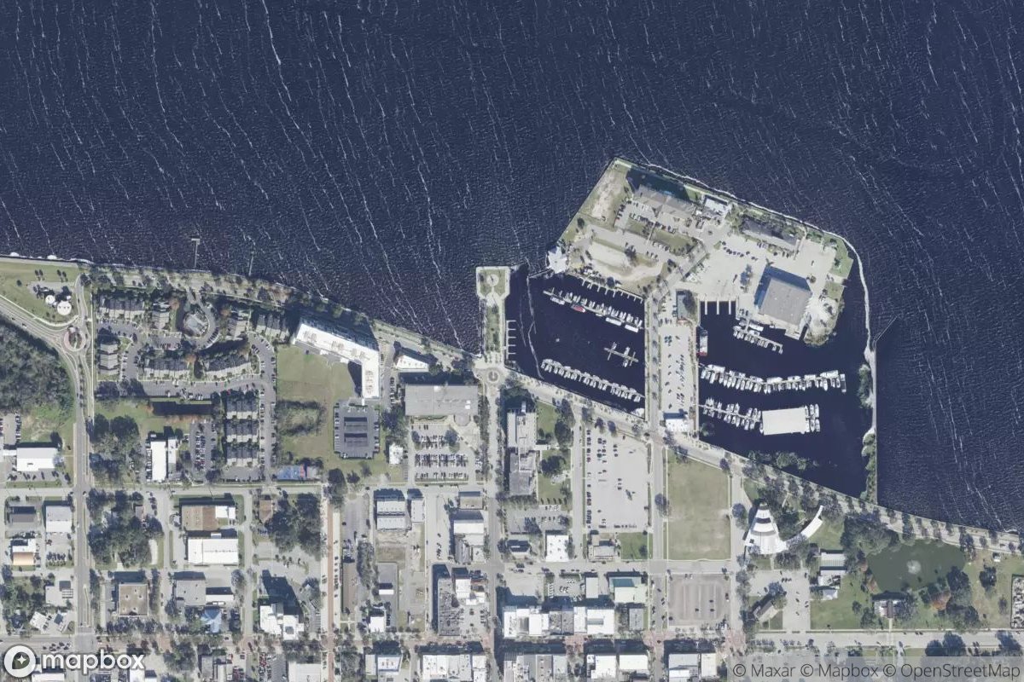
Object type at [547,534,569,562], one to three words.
building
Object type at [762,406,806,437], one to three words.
shed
